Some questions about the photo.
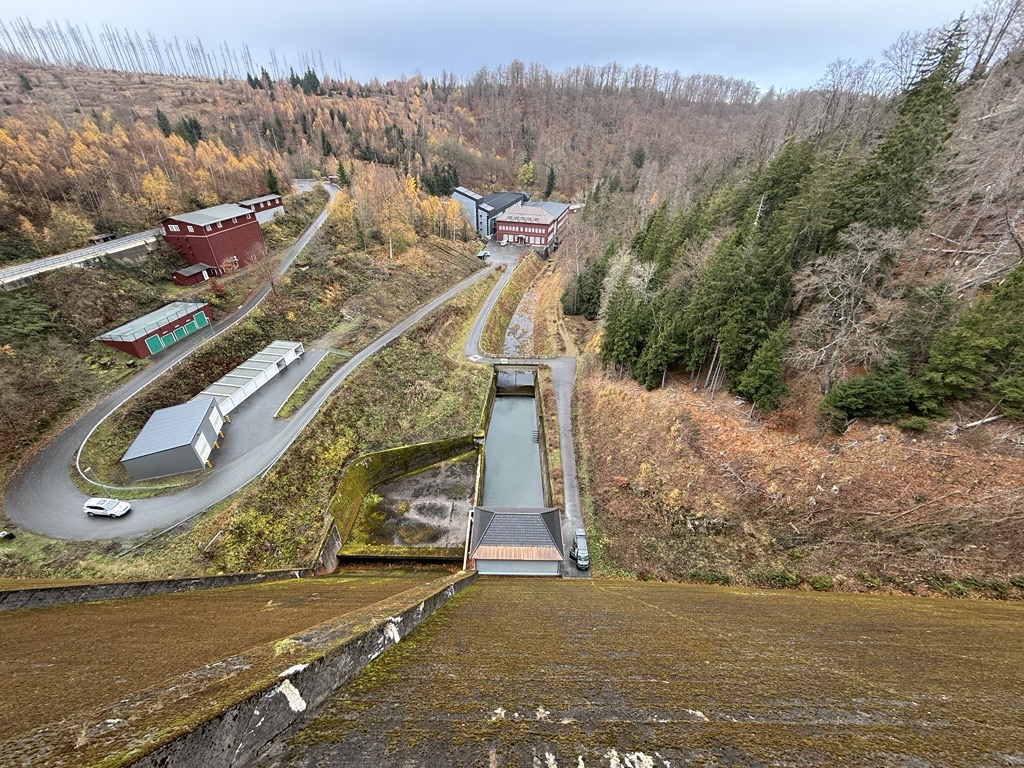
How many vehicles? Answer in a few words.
2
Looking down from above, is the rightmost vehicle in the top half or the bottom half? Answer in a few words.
bottom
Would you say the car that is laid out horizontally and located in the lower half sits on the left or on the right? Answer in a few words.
left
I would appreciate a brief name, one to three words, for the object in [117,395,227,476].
building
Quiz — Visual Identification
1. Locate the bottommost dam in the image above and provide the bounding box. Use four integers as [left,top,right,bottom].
[0,566,1024,768]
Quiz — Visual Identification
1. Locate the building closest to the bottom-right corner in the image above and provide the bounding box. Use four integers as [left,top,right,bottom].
[469,507,568,575]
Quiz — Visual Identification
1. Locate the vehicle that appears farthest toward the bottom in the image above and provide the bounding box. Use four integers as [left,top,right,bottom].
[569,532,593,569]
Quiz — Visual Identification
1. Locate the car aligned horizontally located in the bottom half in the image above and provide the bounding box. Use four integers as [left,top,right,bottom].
[78,497,129,522]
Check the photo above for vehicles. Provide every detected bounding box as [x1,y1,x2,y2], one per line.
[569,532,593,569]
[78,497,129,522]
